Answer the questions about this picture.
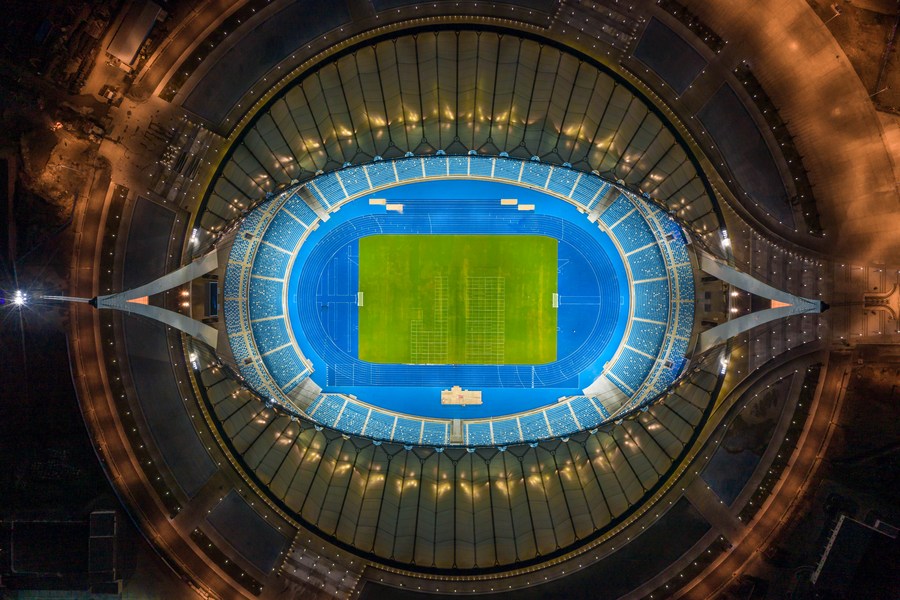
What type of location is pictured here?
sports ground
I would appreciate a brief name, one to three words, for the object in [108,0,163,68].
building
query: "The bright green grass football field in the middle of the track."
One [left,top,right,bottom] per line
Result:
[359,235,556,364]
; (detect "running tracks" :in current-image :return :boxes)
[289,181,627,416]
